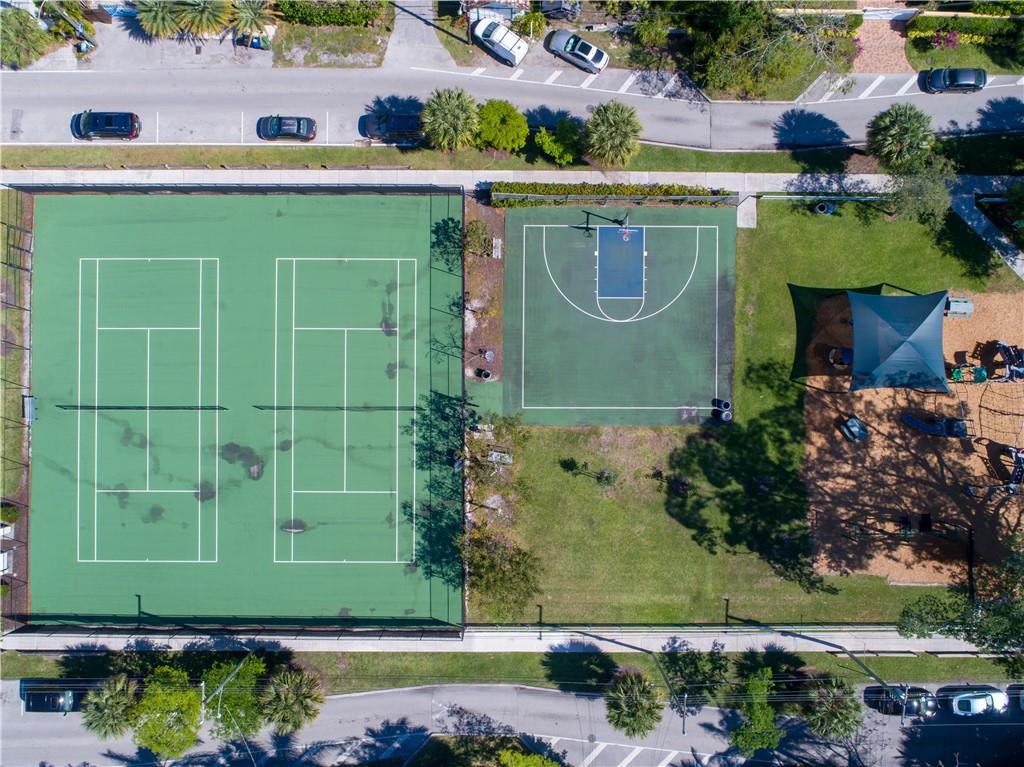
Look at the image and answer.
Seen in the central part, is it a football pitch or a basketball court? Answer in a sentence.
Visible in the central part is a basketball court.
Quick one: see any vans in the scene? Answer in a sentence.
Yes, the picture does show a van.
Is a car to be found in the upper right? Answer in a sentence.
Yes, in the upper right there is a car.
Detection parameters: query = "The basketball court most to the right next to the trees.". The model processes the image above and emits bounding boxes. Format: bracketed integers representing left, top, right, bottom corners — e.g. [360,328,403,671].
[503,206,737,426]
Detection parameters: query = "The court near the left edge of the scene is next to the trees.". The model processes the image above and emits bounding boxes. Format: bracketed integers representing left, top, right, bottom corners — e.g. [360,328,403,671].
[29,194,246,626]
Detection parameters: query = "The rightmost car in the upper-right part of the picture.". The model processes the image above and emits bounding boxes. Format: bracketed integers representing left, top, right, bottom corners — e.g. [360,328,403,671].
[922,65,987,96]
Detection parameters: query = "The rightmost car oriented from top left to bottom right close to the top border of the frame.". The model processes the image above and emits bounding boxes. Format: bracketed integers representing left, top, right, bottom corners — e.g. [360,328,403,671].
[549,29,609,76]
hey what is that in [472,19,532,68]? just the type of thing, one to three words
car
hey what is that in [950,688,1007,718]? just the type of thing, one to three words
car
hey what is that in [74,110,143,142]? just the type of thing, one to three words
van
